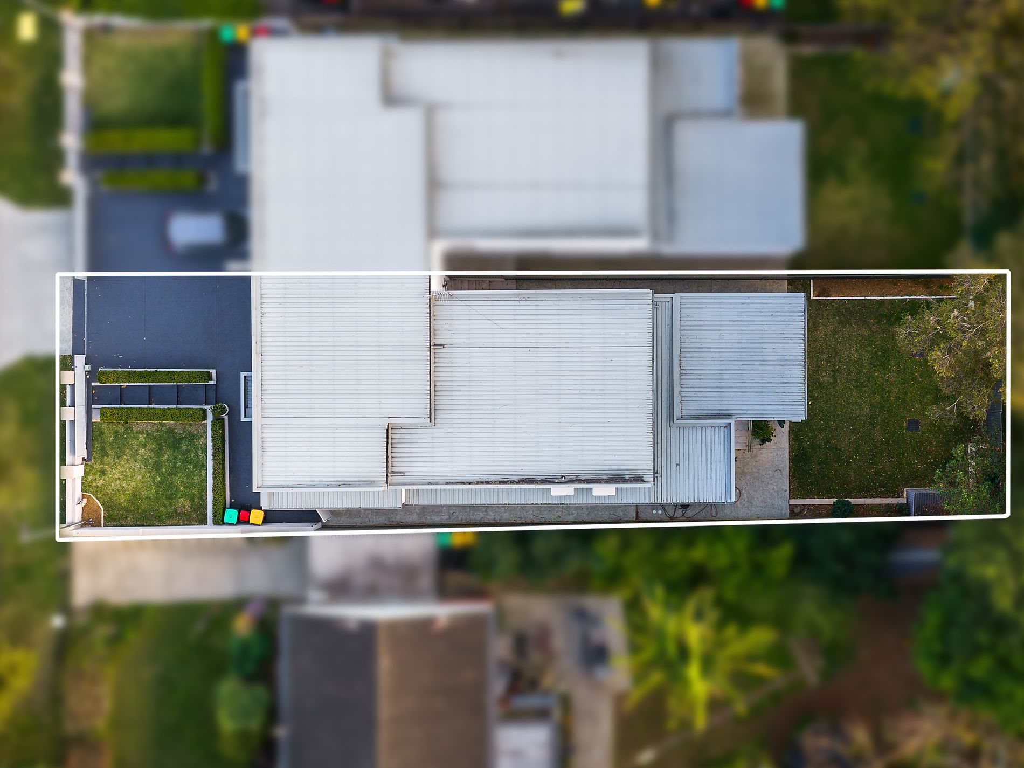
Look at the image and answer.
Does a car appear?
Yes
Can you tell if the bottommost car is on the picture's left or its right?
left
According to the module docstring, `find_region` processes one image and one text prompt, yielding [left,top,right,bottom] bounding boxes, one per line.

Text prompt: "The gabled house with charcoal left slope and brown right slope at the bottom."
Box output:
[281,581,490,768]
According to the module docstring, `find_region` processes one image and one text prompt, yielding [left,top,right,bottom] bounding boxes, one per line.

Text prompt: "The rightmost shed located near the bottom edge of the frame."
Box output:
[497,703,557,768]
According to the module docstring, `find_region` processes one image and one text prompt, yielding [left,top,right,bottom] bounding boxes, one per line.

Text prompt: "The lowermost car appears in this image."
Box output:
[171,206,252,259]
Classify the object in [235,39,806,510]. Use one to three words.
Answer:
house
